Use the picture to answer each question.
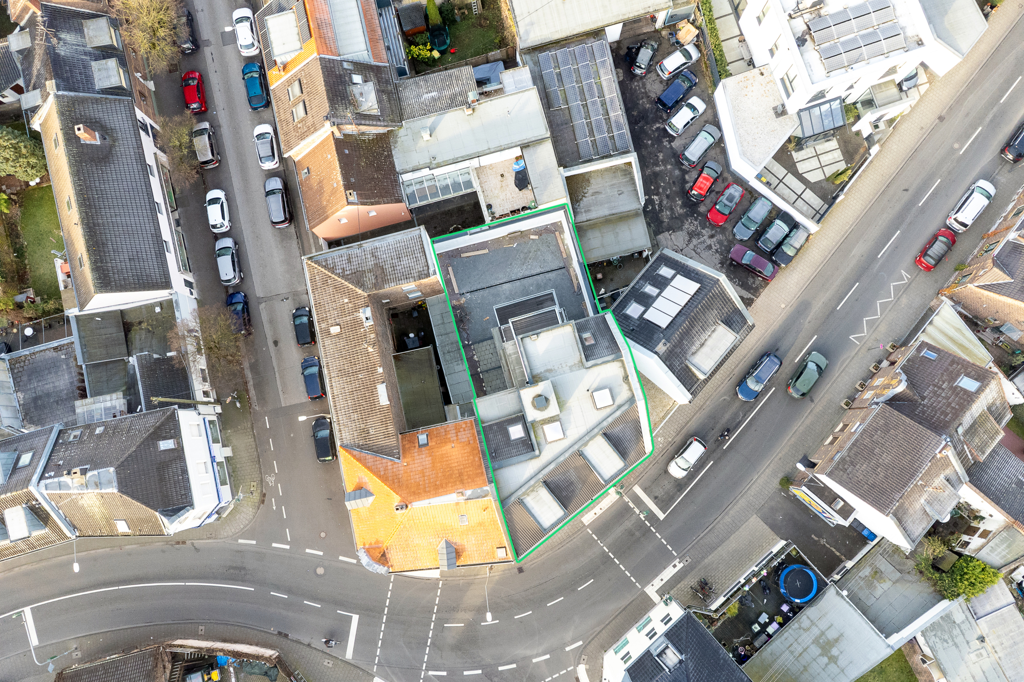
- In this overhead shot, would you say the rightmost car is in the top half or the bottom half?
top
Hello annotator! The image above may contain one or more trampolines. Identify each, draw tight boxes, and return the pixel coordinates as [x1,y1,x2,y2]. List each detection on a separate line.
[780,564,830,610]
[425,12,451,48]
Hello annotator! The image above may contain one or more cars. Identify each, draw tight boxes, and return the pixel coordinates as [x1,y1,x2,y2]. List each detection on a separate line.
[300,355,328,402]
[913,228,954,275]
[771,226,811,269]
[253,123,281,172]
[732,196,775,243]
[787,350,825,400]
[737,349,782,400]
[627,38,658,80]
[655,42,698,84]
[290,306,317,348]
[214,237,243,287]
[898,61,928,94]
[997,118,1024,165]
[231,8,259,58]
[946,178,993,235]
[677,123,722,172]
[706,180,746,228]
[262,176,293,230]
[754,213,797,257]
[669,435,708,480]
[225,291,253,337]
[181,71,210,116]
[727,244,782,285]
[654,69,699,116]
[240,61,270,113]
[204,189,233,235]
[662,95,707,140]
[194,121,222,171]
[308,417,337,464]
[684,161,723,206]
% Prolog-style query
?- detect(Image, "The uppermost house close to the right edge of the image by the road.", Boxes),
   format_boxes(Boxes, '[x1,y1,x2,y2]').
[714,0,989,182]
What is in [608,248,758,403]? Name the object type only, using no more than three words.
house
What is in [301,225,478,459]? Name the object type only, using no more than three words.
building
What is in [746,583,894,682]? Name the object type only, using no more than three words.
building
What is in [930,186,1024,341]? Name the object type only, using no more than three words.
house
